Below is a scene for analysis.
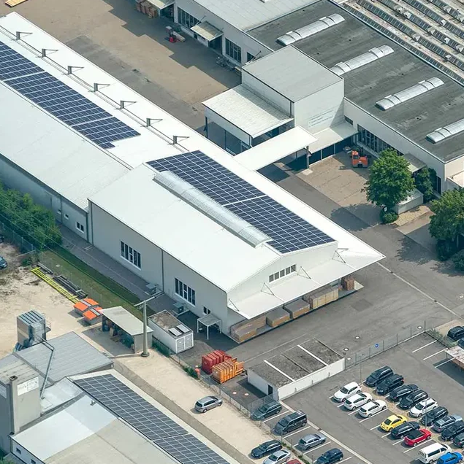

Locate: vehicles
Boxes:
[357,400,386,418]
[251,400,283,421]
[408,396,439,417]
[332,381,361,400]
[389,420,421,440]
[440,420,464,439]
[434,451,464,464]
[364,364,394,385]
[431,414,463,433]
[417,441,451,464]
[374,372,406,393]
[402,429,432,447]
[342,143,372,166]
[388,383,418,402]
[295,433,327,451]
[251,438,283,459]
[193,394,225,414]
[274,408,308,434]
[0,254,8,269]
[315,445,345,464]
[261,447,293,464]
[398,388,430,408]
[378,414,408,432]
[451,430,464,448]
[445,324,464,341]
[342,393,372,410]
[417,405,450,426]
[165,23,178,43]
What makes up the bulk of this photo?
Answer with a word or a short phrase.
buildings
